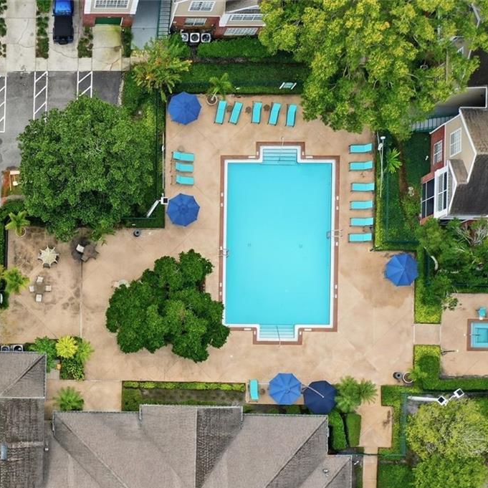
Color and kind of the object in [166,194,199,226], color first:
blue umbrella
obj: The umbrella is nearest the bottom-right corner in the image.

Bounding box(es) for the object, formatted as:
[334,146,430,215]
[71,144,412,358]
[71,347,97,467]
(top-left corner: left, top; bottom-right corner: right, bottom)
[302,381,336,413]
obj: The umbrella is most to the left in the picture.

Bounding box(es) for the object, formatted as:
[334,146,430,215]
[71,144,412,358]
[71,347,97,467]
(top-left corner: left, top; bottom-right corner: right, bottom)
[38,245,58,266]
